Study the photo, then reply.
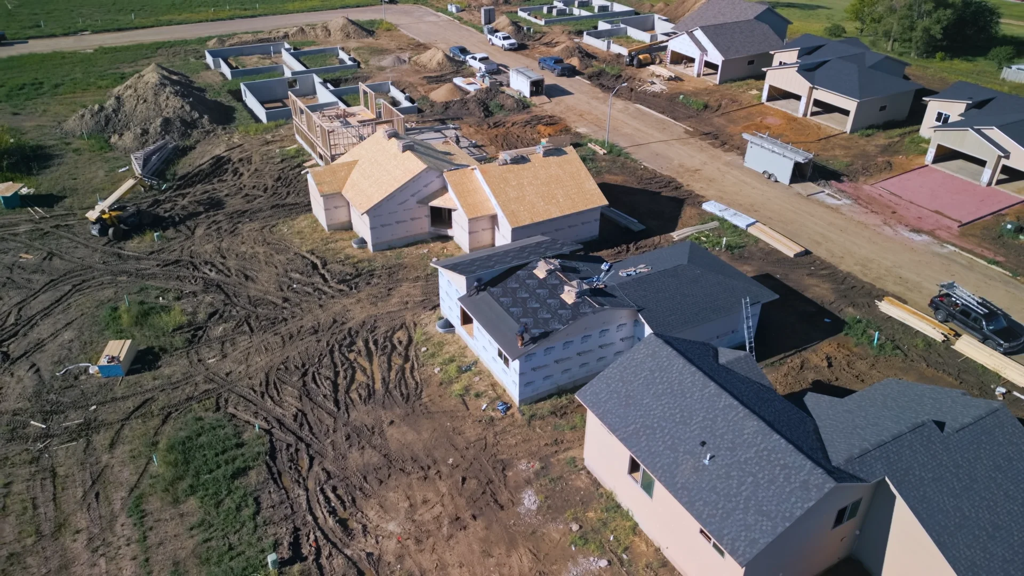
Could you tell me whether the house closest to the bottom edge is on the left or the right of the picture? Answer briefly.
right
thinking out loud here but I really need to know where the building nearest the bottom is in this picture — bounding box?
[574,333,1024,576]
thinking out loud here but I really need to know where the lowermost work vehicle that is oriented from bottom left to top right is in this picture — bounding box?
[85,180,169,241]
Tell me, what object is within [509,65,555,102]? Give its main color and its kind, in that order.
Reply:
white trailer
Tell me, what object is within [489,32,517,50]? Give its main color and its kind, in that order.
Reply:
white vehicle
